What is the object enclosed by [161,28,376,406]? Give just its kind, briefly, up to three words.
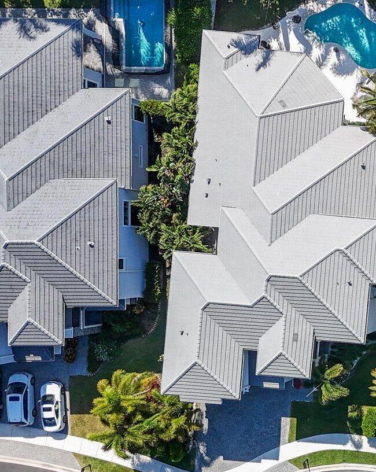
house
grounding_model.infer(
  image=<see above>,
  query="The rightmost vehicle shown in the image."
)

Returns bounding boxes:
[38,381,69,432]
